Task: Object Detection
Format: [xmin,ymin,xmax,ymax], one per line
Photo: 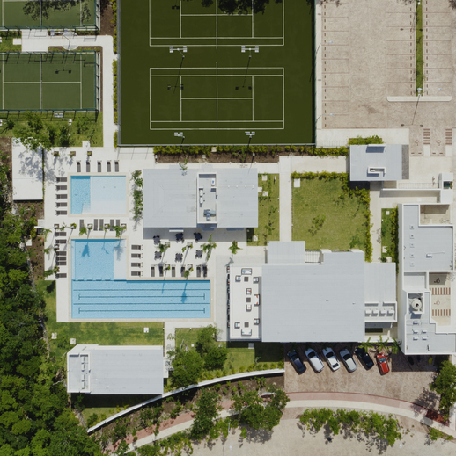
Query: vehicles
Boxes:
[377,354,390,376]
[304,349,326,374]
[322,348,343,373]
[354,346,378,373]
[339,349,360,374]
[287,350,308,377]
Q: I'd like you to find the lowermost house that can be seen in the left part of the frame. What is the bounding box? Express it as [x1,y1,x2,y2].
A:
[68,344,169,394]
